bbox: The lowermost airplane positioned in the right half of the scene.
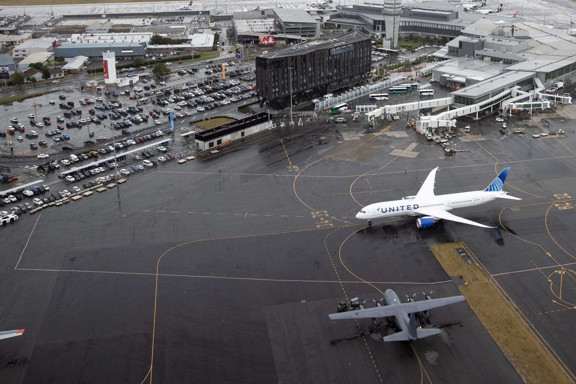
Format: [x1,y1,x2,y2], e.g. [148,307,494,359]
[327,286,466,340]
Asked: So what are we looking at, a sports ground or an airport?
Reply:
airport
